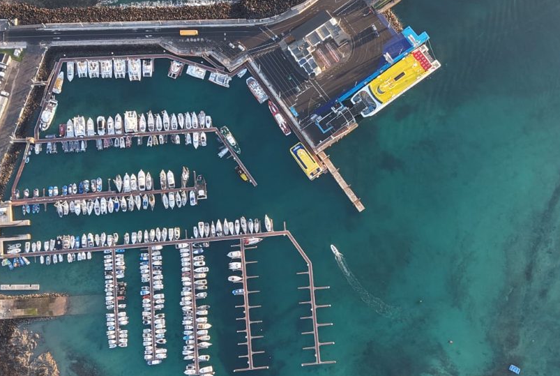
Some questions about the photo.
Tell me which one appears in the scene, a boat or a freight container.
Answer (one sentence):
There is a boat in the scene.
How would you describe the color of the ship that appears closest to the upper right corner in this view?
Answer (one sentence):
The ship that appears closest to the upper right corner is yellow.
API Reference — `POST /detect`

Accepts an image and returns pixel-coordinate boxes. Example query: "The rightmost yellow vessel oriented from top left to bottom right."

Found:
[294,147,322,180]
